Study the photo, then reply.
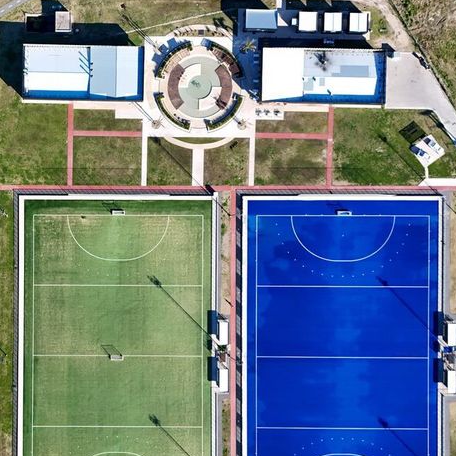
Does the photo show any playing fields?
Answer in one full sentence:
Yes, the frame does contain a playing field.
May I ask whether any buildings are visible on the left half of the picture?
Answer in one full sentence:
Yes, I can see a building on the left half of the picture.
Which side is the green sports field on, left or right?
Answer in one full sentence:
It is on the left.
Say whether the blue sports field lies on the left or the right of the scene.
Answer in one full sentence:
The blue sports field is on the right side of the image.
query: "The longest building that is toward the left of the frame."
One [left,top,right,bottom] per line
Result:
[23,43,144,103]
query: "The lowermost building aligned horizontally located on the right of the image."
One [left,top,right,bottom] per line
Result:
[250,47,388,107]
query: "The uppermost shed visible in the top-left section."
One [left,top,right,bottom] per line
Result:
[55,11,71,34]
